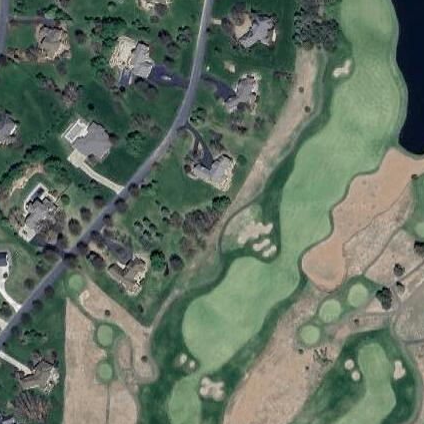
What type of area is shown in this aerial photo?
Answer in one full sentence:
This looks like a golf course.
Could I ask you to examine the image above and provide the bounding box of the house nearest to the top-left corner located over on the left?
[37,25,69,60]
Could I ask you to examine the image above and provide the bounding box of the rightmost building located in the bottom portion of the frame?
[105,255,148,295]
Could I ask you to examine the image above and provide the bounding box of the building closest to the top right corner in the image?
[234,12,276,49]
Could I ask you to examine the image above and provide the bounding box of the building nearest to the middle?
[191,152,235,190]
